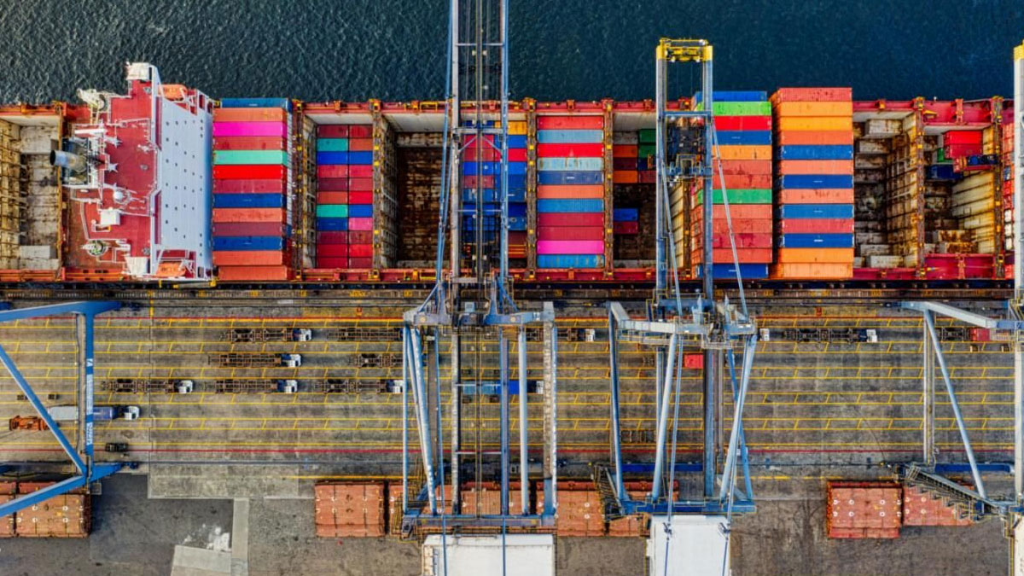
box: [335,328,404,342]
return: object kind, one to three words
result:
vehicle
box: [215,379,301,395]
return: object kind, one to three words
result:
vehicle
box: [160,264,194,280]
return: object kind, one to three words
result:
boat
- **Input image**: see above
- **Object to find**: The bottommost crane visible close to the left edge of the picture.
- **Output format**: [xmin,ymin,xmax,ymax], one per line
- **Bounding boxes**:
[0,302,145,520]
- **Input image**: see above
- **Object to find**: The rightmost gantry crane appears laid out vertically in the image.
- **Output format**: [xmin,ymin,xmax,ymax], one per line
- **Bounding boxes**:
[882,41,1024,576]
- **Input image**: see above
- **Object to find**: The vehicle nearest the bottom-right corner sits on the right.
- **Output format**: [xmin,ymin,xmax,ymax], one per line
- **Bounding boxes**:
[937,328,1010,342]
